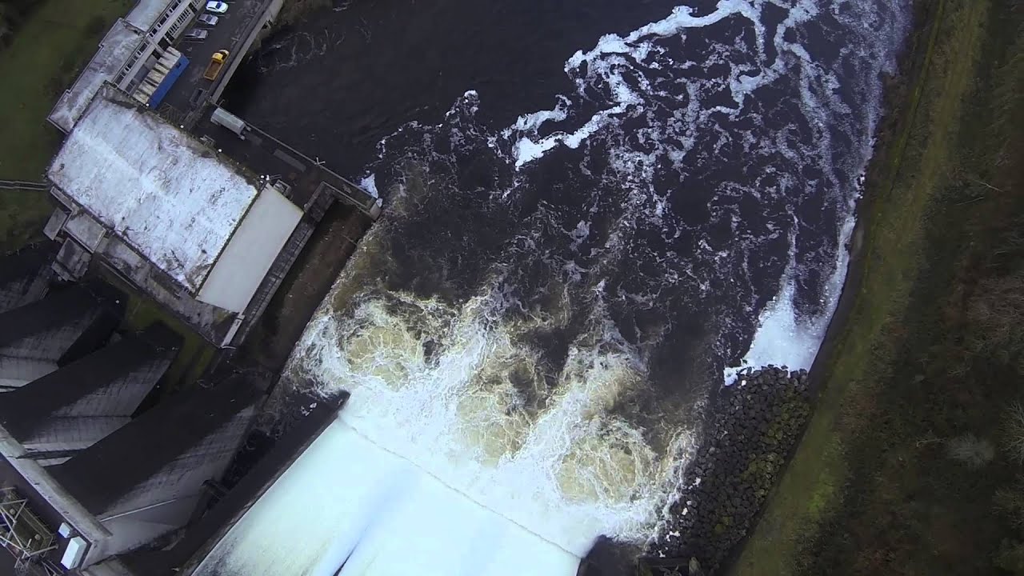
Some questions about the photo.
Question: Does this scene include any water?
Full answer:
Yes, water can be seen from above here.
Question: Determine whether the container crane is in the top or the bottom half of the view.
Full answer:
You can find the container crane in the bottom half.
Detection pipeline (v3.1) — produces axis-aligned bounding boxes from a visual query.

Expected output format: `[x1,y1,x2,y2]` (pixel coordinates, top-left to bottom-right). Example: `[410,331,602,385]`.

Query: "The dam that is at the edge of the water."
[0,221,276,576]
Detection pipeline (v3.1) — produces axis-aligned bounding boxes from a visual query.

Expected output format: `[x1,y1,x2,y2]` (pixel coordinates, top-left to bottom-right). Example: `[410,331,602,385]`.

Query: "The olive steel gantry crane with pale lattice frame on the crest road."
[0,486,59,562]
